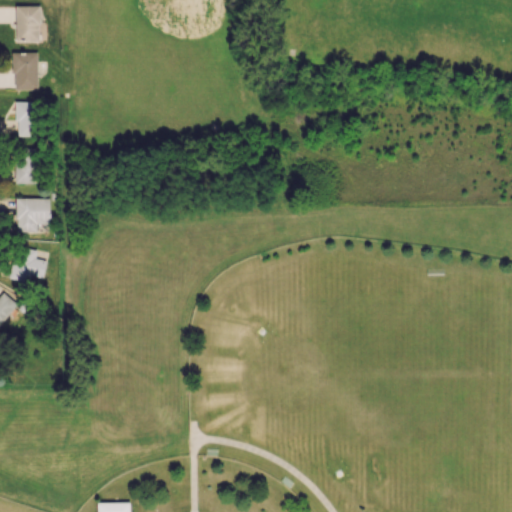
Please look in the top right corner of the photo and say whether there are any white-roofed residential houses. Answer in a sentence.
No, looking in the top right corner of the photo, there is no white-roofed residential house.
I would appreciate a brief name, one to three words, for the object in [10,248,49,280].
house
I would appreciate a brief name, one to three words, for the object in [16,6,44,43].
house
